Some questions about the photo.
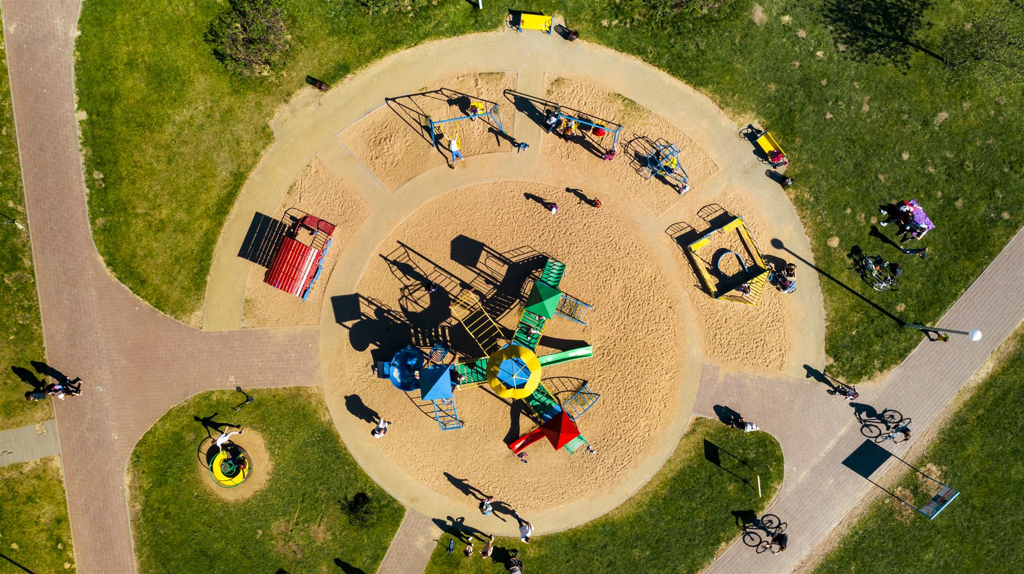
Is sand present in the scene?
Yes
